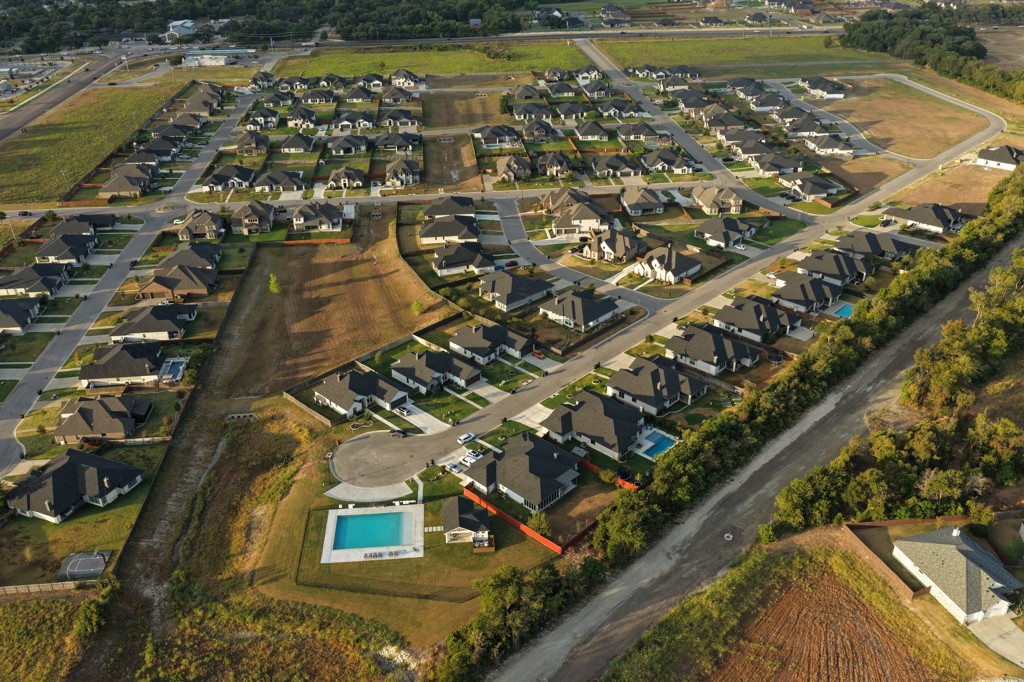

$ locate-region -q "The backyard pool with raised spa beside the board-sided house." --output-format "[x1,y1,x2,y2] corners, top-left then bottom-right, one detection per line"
[161,357,190,381]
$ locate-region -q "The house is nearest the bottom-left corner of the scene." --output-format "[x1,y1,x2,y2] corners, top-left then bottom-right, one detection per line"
[4,440,137,537]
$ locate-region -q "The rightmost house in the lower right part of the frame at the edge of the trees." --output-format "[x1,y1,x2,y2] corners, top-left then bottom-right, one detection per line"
[886,517,1024,626]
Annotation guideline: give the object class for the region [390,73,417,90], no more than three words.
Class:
house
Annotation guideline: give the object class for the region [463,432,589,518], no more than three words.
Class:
house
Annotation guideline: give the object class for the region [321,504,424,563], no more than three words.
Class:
swimming pool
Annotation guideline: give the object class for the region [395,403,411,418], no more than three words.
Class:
car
